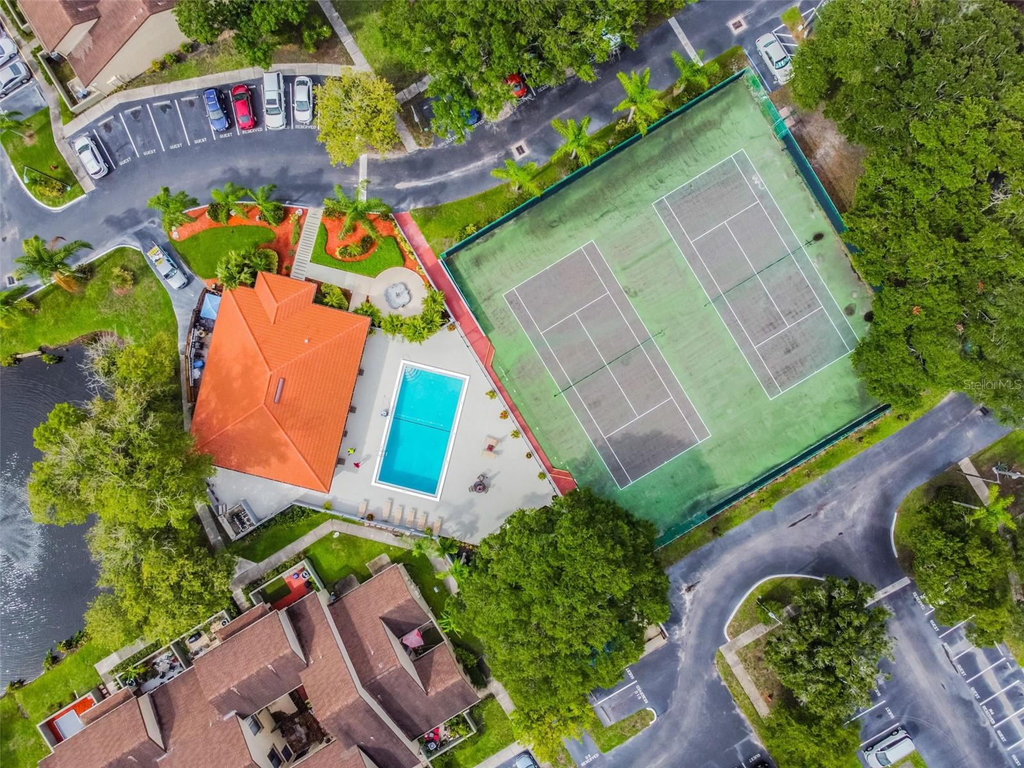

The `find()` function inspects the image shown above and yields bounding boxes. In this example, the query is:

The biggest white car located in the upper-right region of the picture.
[757,33,790,85]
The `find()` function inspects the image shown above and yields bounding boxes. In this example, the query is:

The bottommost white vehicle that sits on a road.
[866,729,919,767]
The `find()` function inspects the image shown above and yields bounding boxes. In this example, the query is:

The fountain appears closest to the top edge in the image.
[382,281,412,310]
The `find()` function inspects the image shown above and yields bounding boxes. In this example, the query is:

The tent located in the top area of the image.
[201,294,223,320]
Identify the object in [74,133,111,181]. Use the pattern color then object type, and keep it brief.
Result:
white car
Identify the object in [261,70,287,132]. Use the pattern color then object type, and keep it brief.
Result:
white truck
